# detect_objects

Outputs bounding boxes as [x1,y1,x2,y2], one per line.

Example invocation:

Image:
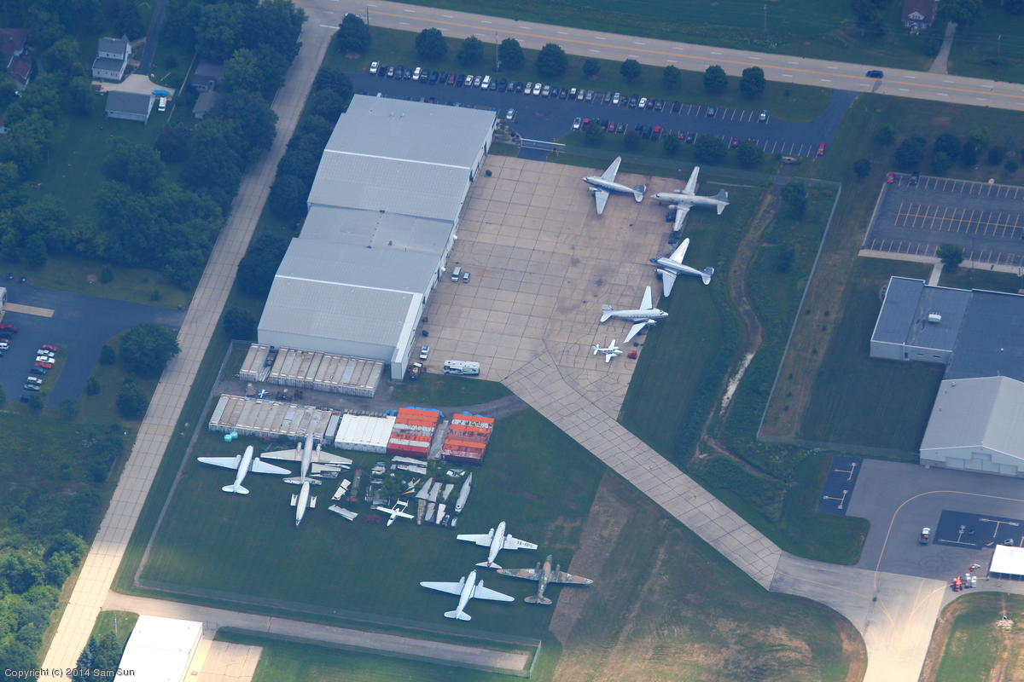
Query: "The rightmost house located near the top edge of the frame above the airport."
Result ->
[901,0,938,37]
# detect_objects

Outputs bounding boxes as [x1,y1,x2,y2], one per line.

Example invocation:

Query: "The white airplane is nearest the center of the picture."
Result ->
[593,339,622,362]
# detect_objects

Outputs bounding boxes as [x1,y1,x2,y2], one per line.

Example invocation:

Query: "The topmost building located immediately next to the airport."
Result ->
[306,93,497,234]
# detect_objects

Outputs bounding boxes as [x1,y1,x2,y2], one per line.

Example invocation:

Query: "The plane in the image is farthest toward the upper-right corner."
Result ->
[653,166,729,225]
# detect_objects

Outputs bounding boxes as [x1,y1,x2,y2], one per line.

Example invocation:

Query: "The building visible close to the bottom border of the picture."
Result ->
[114,614,203,682]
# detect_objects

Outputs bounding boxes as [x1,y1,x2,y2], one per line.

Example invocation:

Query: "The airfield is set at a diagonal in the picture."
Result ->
[405,151,1024,682]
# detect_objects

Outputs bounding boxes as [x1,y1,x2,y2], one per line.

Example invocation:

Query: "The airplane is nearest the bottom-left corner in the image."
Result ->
[197,445,292,493]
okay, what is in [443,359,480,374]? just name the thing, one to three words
vehicle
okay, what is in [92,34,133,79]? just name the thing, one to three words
house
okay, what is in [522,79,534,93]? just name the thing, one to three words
vehicle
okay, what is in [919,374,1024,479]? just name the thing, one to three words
hangar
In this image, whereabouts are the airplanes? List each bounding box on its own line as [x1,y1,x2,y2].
[456,522,538,570]
[197,445,292,493]
[650,239,712,296]
[496,555,594,604]
[419,570,515,619]
[593,339,622,362]
[602,287,667,343]
[254,388,271,399]
[653,166,729,225]
[583,158,645,213]
[260,437,352,486]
